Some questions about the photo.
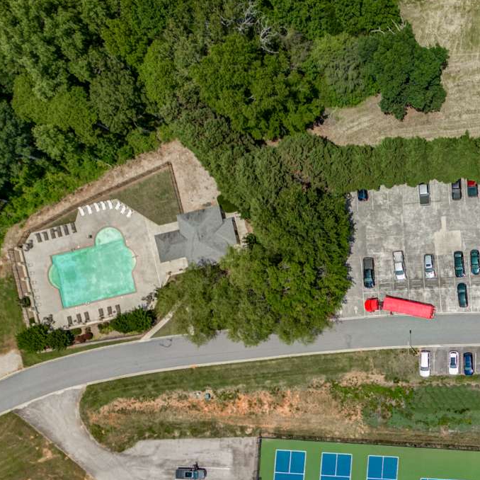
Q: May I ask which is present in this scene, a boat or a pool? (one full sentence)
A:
The one in the frame is a pool.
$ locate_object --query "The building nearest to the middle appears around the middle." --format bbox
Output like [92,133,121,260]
[154,207,241,268]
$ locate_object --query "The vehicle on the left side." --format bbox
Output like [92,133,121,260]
[175,468,208,480]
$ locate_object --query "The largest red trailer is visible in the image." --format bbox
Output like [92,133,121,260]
[384,296,437,319]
